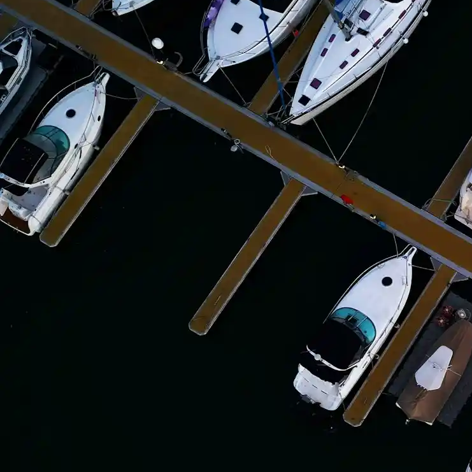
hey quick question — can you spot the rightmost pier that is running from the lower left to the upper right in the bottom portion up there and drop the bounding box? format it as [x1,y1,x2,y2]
[342,256,471,428]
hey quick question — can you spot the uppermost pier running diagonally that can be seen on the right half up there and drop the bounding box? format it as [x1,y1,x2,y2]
[246,0,333,119]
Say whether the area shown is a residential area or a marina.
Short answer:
marina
